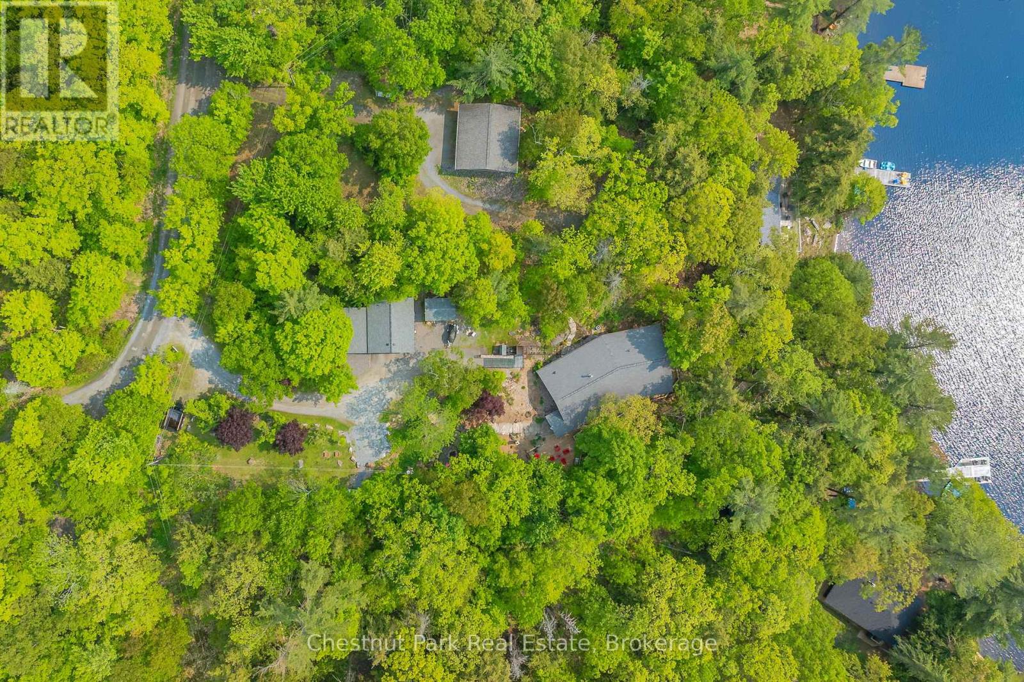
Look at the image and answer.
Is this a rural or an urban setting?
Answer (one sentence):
The area shown here is rural.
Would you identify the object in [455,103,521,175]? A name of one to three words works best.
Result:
house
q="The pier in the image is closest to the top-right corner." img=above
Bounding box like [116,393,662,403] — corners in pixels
[881,64,928,89]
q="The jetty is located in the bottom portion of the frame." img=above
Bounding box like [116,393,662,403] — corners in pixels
[915,456,993,485]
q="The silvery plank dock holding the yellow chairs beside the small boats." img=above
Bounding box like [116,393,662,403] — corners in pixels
[848,165,912,188]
